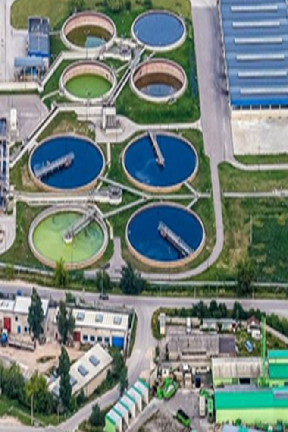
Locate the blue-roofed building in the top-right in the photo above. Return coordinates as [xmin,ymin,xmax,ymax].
[216,0,288,116]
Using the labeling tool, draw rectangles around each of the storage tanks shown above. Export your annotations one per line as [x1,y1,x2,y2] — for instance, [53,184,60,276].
[28,131,105,192]
[131,8,187,51]
[129,57,188,102]
[60,10,116,52]
[27,201,108,269]
[58,57,118,103]
[122,129,198,190]
[125,199,206,266]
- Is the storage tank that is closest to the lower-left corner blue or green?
green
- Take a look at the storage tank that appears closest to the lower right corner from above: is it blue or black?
blue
